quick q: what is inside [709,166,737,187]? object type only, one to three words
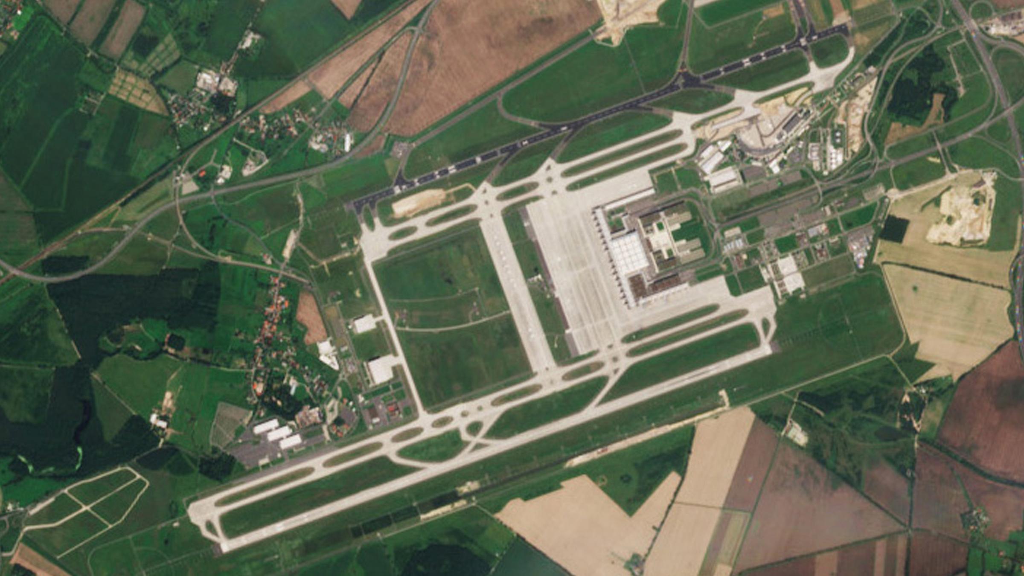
hangar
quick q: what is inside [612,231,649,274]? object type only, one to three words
building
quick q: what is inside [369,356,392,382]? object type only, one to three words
hangar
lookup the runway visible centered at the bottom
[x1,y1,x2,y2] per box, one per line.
[219,343,772,553]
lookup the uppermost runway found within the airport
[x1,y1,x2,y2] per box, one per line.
[354,26,848,209]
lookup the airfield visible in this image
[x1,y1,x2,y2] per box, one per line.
[184,0,854,567]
